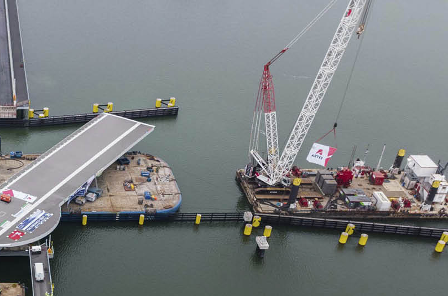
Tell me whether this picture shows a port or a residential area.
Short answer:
port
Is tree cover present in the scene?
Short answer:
No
